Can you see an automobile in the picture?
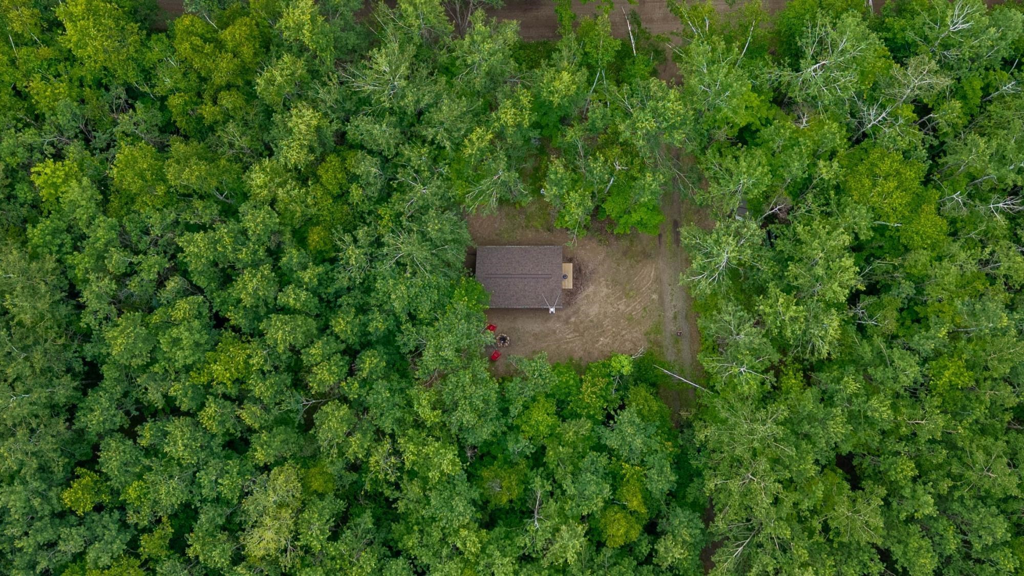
No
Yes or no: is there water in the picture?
No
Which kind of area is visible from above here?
forest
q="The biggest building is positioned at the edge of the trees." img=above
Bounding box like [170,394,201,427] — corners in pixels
[476,245,563,308]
